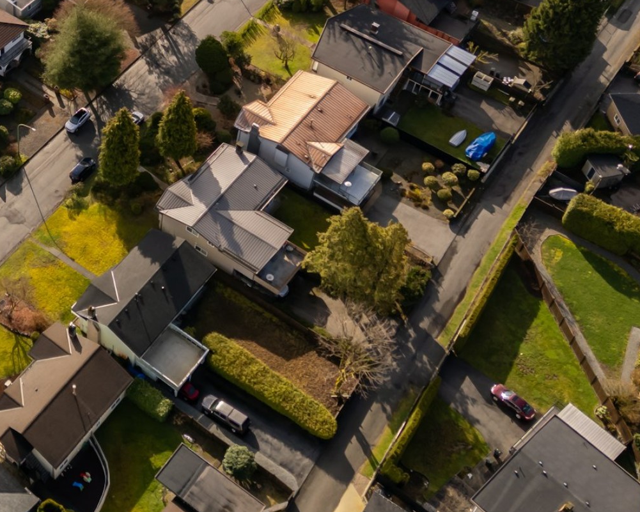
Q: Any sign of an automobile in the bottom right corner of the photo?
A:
Yes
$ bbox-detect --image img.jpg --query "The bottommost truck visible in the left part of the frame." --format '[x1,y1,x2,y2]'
[201,398,250,436]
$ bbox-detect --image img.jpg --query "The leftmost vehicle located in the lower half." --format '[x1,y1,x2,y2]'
[164,378,205,403]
